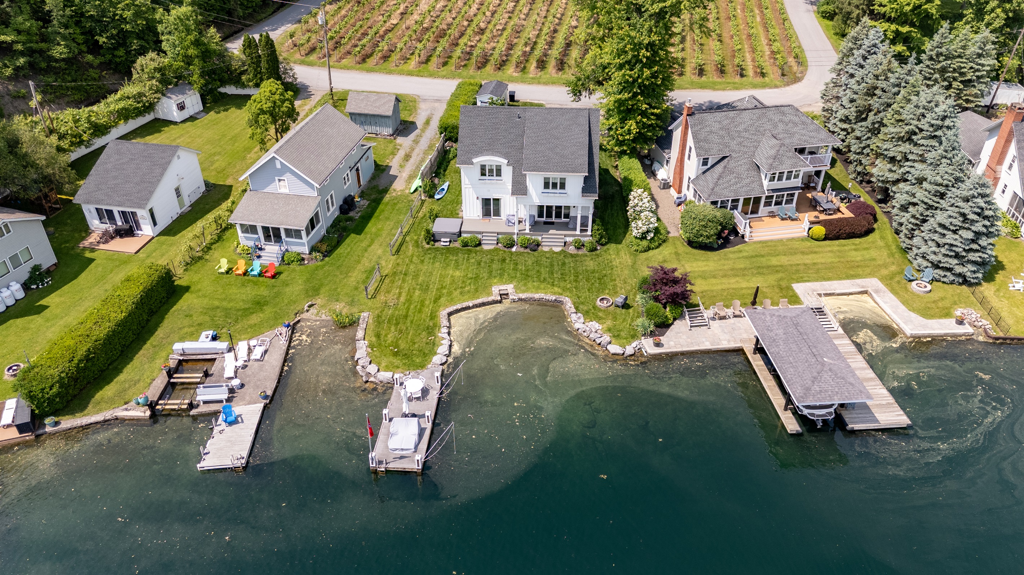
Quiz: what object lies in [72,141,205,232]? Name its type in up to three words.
house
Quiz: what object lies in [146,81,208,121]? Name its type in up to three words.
shed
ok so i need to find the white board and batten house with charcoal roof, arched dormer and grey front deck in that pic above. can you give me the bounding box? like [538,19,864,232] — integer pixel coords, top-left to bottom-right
[456,105,600,247]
